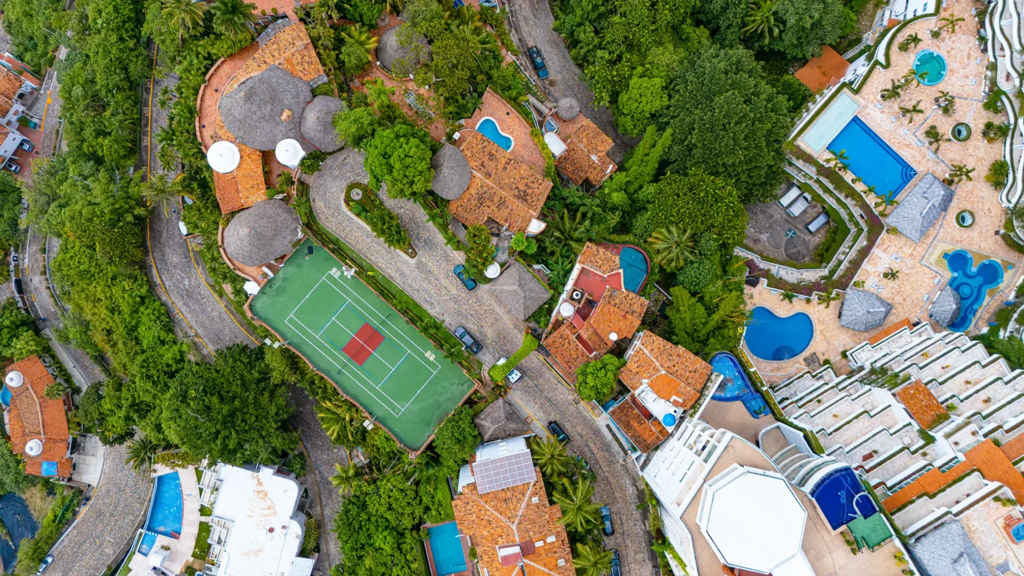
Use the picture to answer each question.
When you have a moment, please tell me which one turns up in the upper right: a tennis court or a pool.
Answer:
pool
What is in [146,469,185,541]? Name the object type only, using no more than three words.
swimming pool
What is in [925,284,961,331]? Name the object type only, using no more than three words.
shed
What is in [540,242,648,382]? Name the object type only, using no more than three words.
house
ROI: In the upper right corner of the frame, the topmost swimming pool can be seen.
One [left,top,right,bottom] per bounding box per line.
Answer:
[912,49,949,86]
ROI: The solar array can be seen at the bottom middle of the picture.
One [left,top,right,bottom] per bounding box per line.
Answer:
[472,449,536,494]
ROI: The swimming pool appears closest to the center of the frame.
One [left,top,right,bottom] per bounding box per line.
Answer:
[612,244,653,298]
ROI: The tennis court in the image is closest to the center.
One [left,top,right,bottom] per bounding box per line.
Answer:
[245,236,479,457]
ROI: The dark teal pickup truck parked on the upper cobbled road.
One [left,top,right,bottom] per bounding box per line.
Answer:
[526,43,549,79]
